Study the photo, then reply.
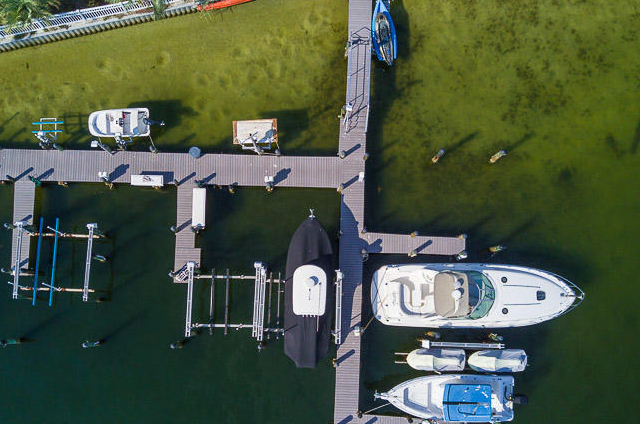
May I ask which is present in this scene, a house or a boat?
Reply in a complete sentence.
Visible in the photo is a boat.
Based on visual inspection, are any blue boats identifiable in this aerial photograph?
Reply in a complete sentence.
Yes, there's a blue boat down there.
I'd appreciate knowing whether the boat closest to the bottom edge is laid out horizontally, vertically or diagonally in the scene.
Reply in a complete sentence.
The boat closest to the bottom edge is laid out horizontally.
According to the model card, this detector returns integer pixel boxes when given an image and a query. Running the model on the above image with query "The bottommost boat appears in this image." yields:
[376,373,529,422]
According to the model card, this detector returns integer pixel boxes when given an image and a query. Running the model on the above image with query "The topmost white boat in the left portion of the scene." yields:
[88,108,165,139]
